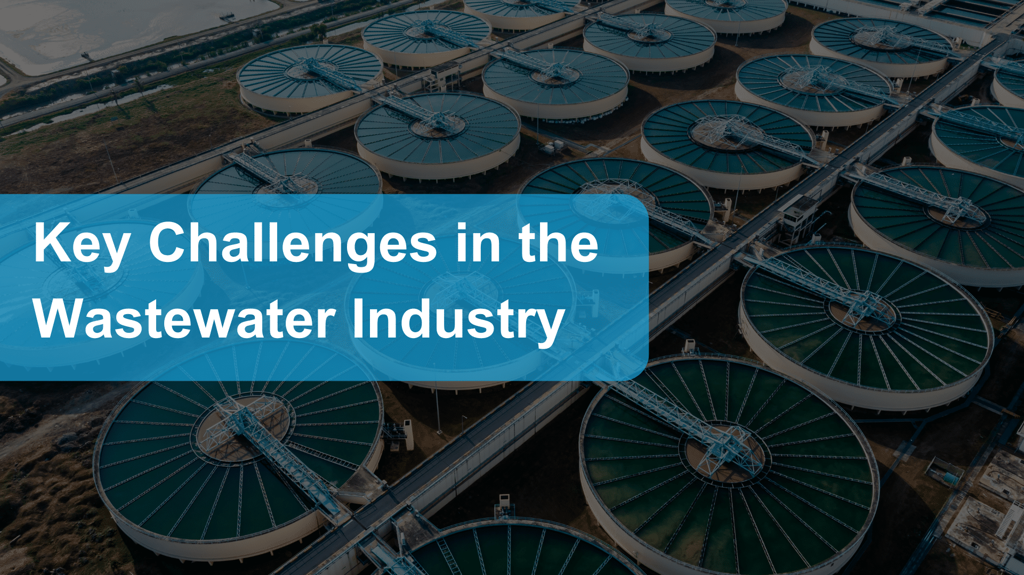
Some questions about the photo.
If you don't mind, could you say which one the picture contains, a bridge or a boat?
bridge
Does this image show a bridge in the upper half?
Yes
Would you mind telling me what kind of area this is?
industrial area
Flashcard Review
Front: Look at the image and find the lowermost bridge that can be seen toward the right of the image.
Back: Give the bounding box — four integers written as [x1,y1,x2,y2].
[594,375,722,448]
